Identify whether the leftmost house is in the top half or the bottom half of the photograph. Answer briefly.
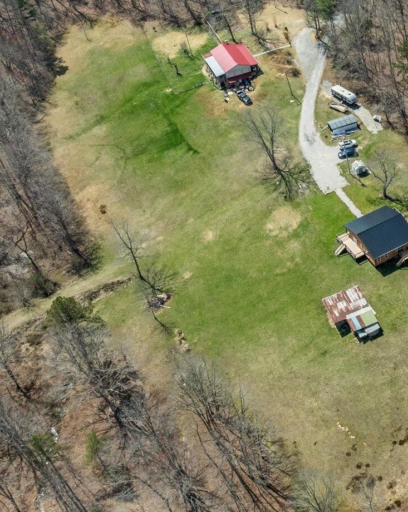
top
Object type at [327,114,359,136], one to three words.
shed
